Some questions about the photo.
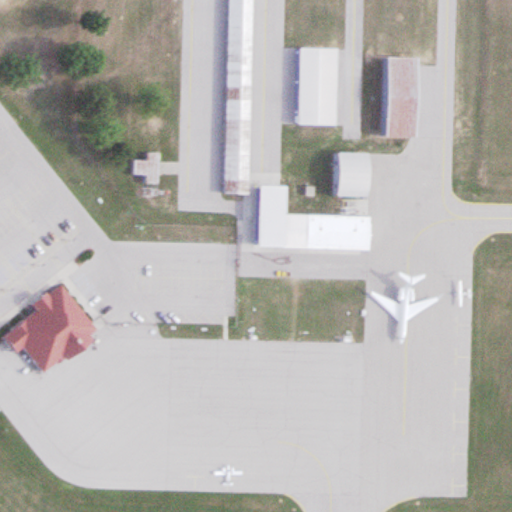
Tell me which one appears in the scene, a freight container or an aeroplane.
aeroplane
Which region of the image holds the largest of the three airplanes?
right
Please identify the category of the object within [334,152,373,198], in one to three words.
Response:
hangar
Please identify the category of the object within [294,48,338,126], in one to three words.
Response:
hangar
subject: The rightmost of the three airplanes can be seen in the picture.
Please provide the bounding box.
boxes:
[454,280,473,307]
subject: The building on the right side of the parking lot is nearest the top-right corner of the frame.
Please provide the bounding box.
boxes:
[380,58,420,138]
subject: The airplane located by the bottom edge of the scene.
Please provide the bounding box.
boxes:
[214,464,243,486]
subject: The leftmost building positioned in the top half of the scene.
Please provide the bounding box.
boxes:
[132,152,161,185]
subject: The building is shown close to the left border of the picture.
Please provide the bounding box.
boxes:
[5,284,96,370]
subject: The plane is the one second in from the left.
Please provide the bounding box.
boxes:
[370,271,440,344]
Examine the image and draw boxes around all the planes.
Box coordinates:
[370,271,440,344]
[454,280,473,307]
[214,464,243,486]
